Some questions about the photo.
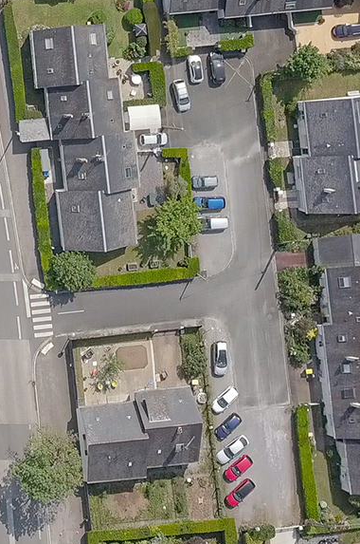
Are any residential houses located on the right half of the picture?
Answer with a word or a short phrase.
Yes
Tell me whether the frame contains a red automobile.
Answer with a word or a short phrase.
Yes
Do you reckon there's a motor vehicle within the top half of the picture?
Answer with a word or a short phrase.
Yes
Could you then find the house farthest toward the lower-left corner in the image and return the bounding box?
[77,401,148,484]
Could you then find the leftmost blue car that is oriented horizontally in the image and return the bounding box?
[193,197,225,212]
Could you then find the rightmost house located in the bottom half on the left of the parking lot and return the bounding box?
[130,384,202,468]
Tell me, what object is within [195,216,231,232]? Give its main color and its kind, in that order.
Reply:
white vehicle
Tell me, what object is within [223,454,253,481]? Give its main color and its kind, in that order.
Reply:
red car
